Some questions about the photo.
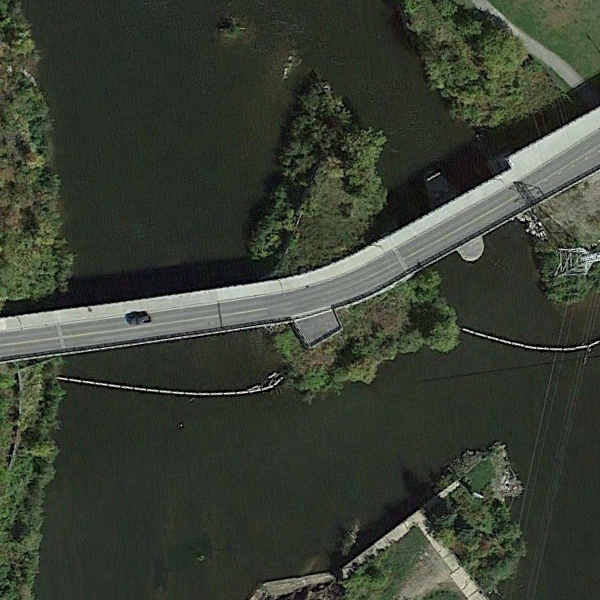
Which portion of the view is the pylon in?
right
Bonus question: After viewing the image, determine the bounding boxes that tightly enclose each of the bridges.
[0,107,600,363]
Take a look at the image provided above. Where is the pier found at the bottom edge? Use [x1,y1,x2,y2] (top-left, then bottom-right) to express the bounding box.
[250,571,335,600]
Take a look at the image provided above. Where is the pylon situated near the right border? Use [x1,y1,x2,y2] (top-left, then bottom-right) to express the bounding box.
[554,246,600,275]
